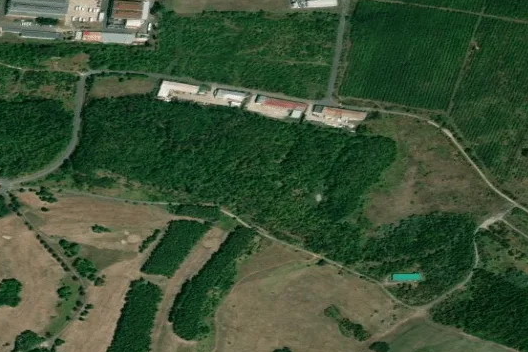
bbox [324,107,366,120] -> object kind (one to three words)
building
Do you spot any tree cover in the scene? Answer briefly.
Yes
